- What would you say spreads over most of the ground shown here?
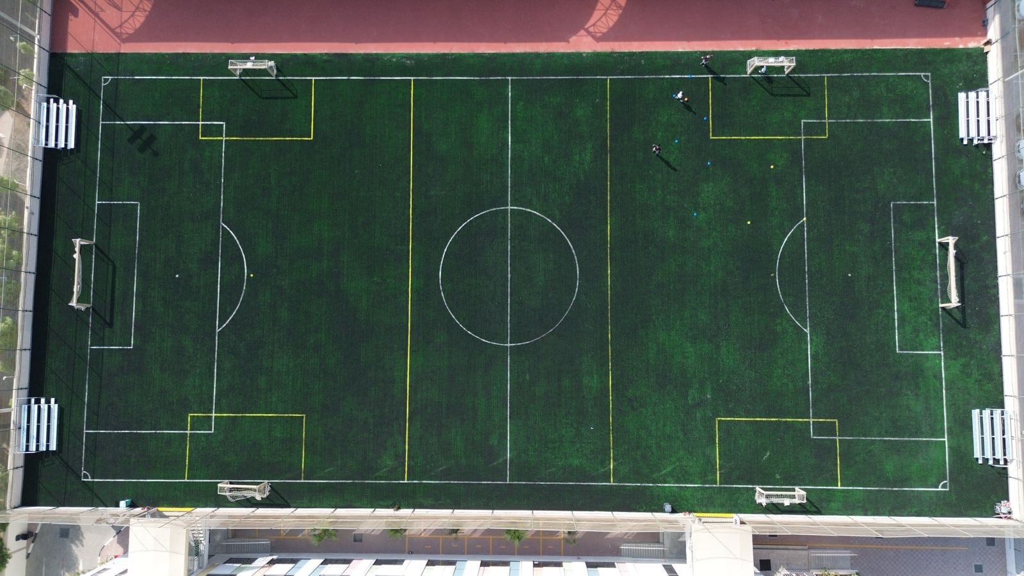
grass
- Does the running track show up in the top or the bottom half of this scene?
top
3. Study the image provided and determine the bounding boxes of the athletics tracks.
[51,0,985,51]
